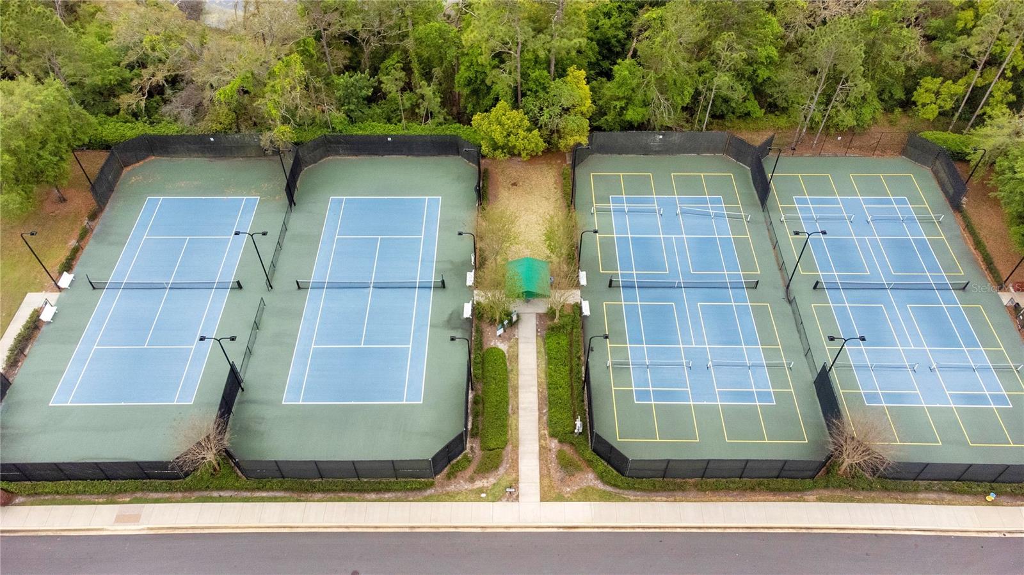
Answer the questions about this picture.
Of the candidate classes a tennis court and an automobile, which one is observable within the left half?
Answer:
tennis court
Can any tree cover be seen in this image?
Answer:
Yes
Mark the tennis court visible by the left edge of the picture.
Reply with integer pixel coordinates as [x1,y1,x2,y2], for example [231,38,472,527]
[0,157,293,476]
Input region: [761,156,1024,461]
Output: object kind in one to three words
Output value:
tennis court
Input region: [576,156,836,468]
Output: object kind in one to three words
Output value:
tennis court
